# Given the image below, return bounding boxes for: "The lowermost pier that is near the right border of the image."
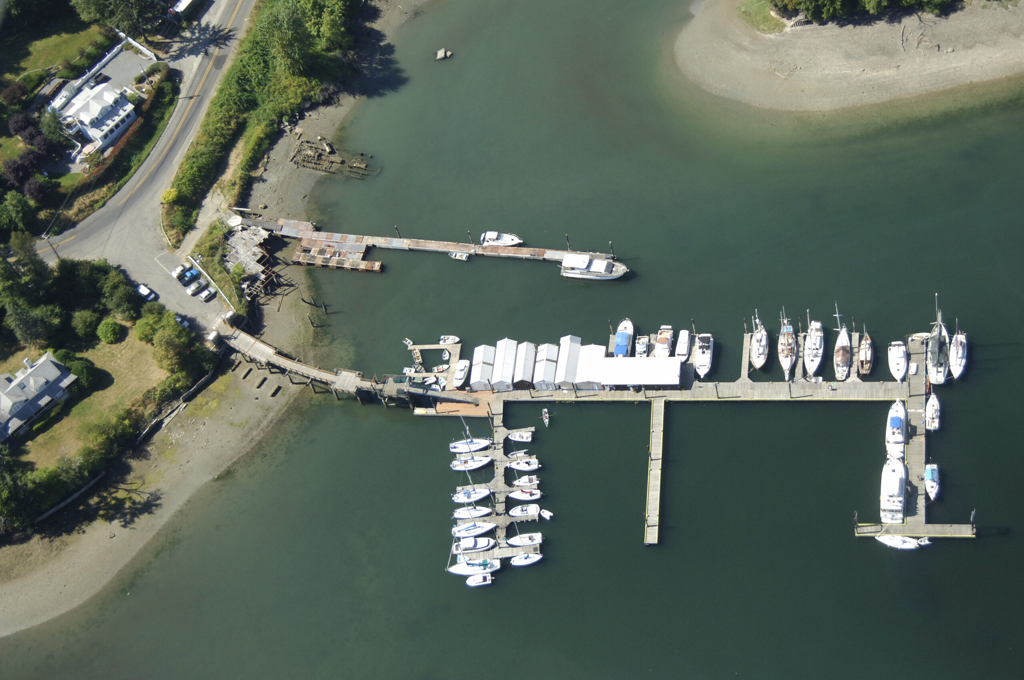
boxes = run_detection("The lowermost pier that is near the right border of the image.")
[855,524,975,538]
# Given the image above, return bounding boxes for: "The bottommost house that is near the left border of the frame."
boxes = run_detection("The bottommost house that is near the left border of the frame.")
[0,350,80,448]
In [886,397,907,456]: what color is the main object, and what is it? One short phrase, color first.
white boat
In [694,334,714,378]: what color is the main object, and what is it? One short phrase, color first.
white boat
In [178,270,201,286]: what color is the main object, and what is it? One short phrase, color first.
blue vehicle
